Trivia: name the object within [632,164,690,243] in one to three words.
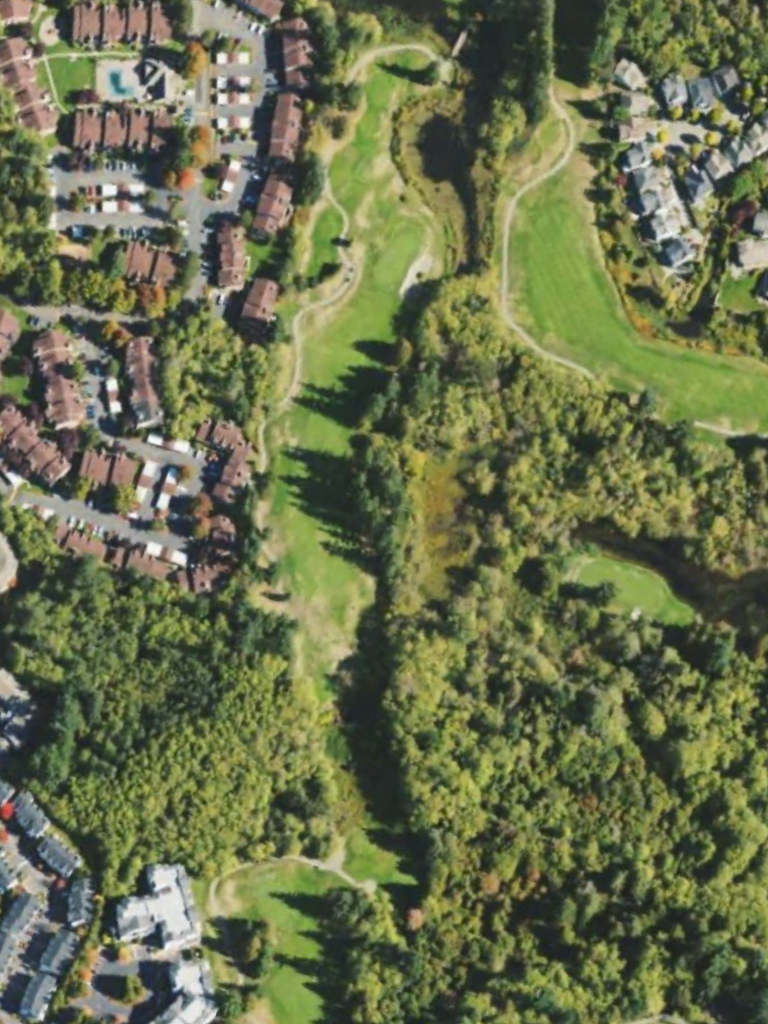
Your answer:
house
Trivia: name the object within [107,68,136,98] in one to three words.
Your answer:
swimming pool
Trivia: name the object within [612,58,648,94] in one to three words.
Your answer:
house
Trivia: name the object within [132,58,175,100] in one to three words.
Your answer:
building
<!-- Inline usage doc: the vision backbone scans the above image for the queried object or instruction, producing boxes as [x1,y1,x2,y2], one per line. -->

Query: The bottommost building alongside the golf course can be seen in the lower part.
[153,955,220,1024]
